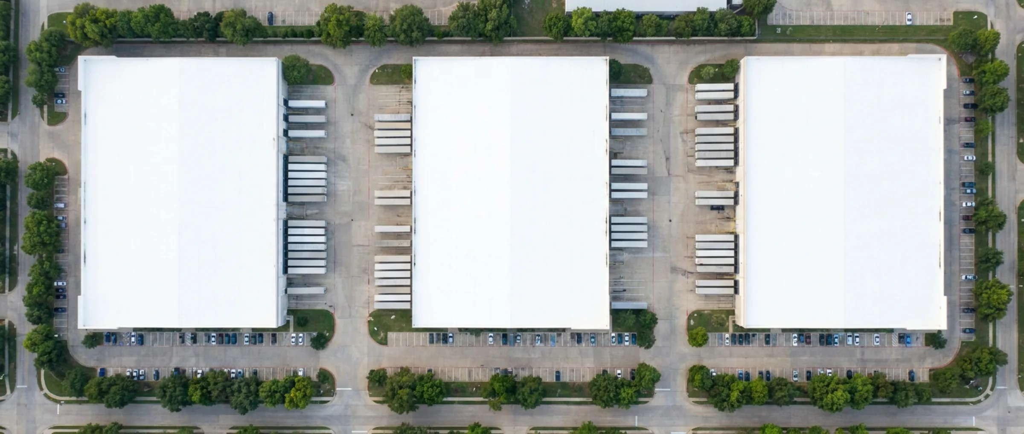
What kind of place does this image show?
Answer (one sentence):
It's an industrial area.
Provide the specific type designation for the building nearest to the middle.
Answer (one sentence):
I'd identify the building nearest to the middle as a warehouse.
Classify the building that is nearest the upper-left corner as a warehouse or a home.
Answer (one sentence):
In the photo, the building that is nearest the upper-left corner shows up as a warehouse.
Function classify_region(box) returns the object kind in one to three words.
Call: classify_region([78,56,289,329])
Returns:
warehouse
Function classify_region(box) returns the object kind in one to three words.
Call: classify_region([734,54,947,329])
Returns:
warehouse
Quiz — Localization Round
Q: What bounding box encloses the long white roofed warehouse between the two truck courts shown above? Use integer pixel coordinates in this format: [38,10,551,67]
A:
[411,57,611,329]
